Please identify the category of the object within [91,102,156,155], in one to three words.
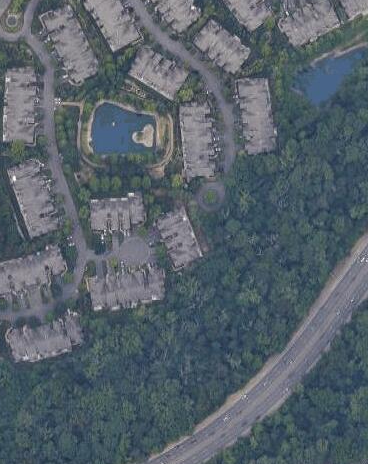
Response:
pond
